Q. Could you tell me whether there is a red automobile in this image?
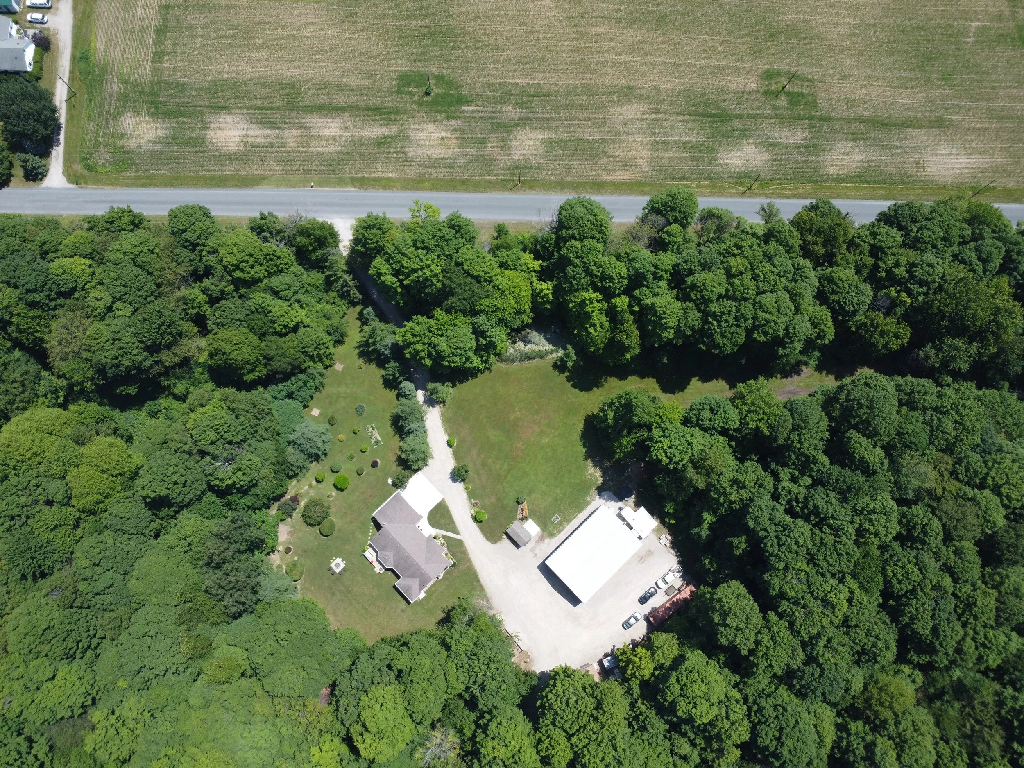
No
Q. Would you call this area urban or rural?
rural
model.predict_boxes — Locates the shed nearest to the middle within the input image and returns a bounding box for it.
[507,521,532,546]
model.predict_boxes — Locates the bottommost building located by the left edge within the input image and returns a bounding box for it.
[0,16,37,79]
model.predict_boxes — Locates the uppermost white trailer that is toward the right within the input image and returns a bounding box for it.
[618,505,658,539]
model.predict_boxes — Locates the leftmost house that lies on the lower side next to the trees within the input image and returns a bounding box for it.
[370,491,454,603]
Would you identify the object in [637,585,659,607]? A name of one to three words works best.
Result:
car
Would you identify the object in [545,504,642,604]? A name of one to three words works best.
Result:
barn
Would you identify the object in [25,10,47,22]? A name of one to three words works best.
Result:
vehicle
